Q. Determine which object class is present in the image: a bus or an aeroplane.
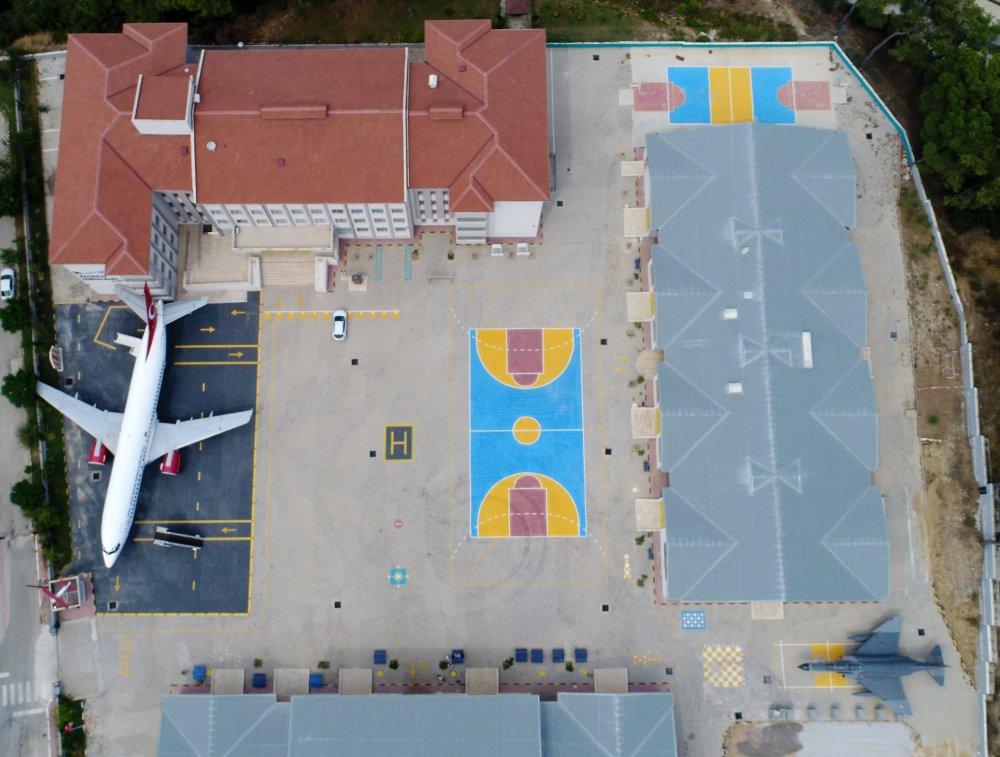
aeroplane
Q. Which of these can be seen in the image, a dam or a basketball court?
basketball court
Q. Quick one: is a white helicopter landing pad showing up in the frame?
No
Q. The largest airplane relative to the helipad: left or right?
left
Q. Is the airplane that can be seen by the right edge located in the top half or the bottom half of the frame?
bottom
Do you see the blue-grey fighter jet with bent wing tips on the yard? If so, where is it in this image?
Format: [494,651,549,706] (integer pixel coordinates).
[797,617,952,713]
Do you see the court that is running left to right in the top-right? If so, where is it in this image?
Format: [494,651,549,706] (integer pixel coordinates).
[633,65,832,125]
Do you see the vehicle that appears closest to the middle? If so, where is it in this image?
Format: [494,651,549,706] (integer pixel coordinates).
[331,309,348,340]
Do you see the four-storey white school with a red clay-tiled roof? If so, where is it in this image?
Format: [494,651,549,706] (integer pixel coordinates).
[49,21,550,300]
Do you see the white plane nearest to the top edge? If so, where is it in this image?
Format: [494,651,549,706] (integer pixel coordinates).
[33,276,252,568]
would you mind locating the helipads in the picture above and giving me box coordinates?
[385,424,414,462]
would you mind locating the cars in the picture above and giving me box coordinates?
[331,309,348,340]
[0,267,16,298]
